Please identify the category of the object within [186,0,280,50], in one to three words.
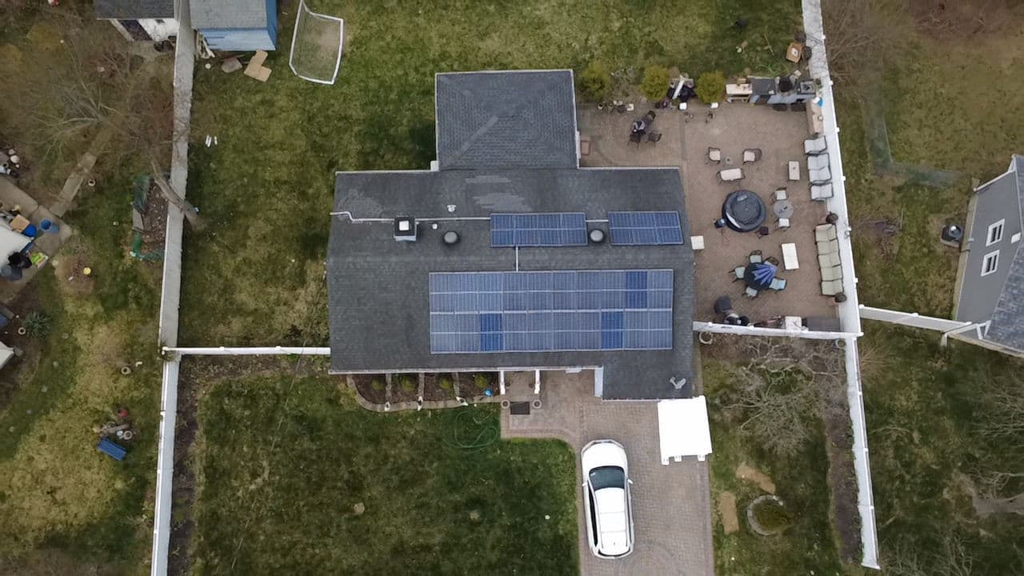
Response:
shed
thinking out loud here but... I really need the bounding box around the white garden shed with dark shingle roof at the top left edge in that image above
[96,0,176,42]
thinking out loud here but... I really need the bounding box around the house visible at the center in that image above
[326,68,693,402]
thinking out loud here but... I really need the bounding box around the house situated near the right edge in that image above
[948,160,1024,347]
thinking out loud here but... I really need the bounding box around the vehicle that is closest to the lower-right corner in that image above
[582,438,635,559]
